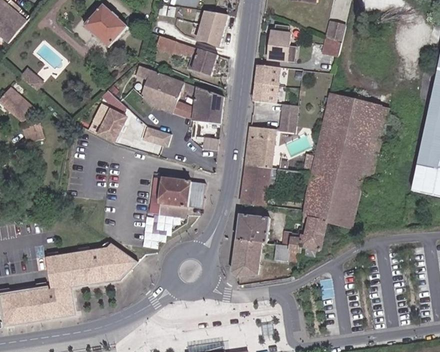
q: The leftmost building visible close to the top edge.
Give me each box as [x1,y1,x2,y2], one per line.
[0,0,28,42]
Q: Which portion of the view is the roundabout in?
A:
bottom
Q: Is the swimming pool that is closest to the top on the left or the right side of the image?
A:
left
